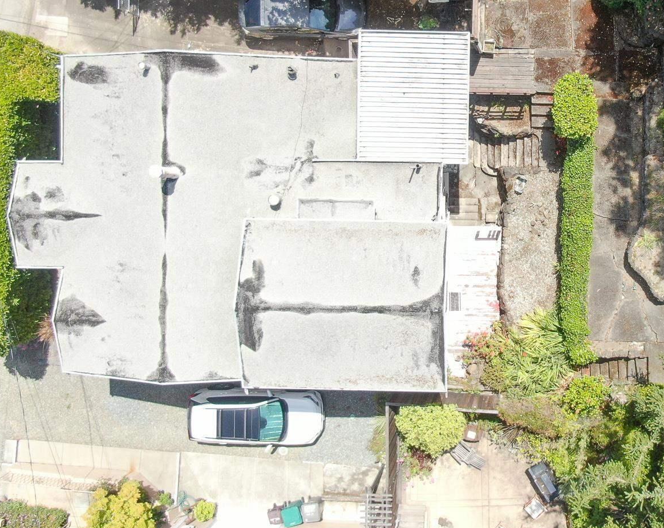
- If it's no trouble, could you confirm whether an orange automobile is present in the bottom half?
No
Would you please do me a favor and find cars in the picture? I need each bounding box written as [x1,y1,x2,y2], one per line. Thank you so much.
[188,384,326,454]
[237,0,369,48]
